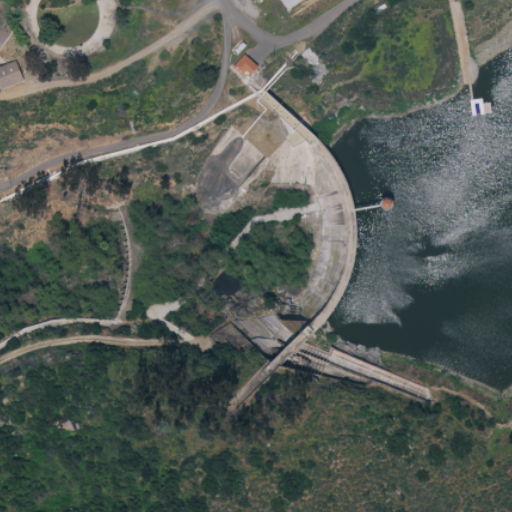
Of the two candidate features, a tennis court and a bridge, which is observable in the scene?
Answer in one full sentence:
I can see a bridge in this picture.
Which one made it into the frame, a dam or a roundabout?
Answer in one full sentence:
The image shows a dam.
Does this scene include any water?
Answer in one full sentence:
Yes, there's water in this view.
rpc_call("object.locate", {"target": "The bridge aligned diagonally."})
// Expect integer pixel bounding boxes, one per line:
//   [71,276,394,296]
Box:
[228,326,308,410]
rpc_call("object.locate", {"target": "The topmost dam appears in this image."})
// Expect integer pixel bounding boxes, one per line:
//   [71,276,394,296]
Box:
[262,90,358,338]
